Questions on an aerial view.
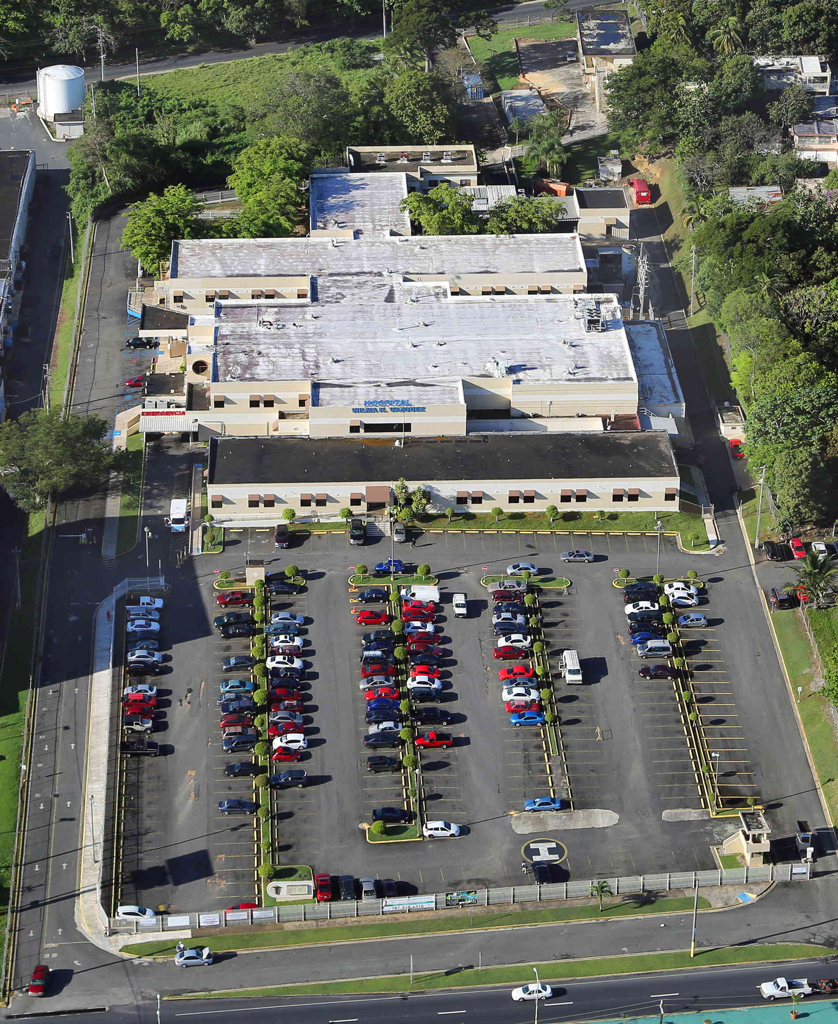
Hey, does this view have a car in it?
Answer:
Yes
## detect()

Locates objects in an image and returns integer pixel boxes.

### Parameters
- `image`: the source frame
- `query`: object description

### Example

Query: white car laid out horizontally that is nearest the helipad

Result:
[423,820,459,838]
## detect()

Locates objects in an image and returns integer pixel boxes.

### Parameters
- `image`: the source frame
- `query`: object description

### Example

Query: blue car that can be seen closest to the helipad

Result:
[524,796,560,812]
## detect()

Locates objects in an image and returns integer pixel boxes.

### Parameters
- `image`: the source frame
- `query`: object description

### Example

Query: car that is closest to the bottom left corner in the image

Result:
[28,958,48,993]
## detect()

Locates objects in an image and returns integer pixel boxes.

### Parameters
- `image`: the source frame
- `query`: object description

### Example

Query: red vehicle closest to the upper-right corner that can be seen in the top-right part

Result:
[632,175,652,202]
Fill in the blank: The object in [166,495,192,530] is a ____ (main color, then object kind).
white vehicle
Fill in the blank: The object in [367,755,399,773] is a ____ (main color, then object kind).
black car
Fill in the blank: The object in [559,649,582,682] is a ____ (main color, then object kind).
white vehicle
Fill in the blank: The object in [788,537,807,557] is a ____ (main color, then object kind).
red car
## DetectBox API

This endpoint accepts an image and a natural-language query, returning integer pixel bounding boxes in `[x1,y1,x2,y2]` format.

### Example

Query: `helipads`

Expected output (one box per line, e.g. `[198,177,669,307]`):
[525,839,564,861]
